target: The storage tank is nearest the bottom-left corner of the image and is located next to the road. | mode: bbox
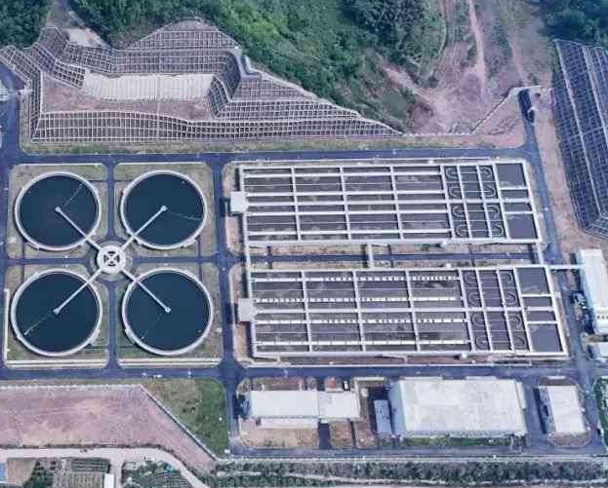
[10,268,103,358]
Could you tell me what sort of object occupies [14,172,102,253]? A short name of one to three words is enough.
storage tank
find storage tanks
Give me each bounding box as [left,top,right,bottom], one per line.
[10,268,103,358]
[120,170,207,251]
[14,172,102,253]
[121,268,213,356]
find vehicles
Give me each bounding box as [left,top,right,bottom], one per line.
[343,382,349,391]
[152,373,163,378]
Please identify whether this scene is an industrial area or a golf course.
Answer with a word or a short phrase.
industrial area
